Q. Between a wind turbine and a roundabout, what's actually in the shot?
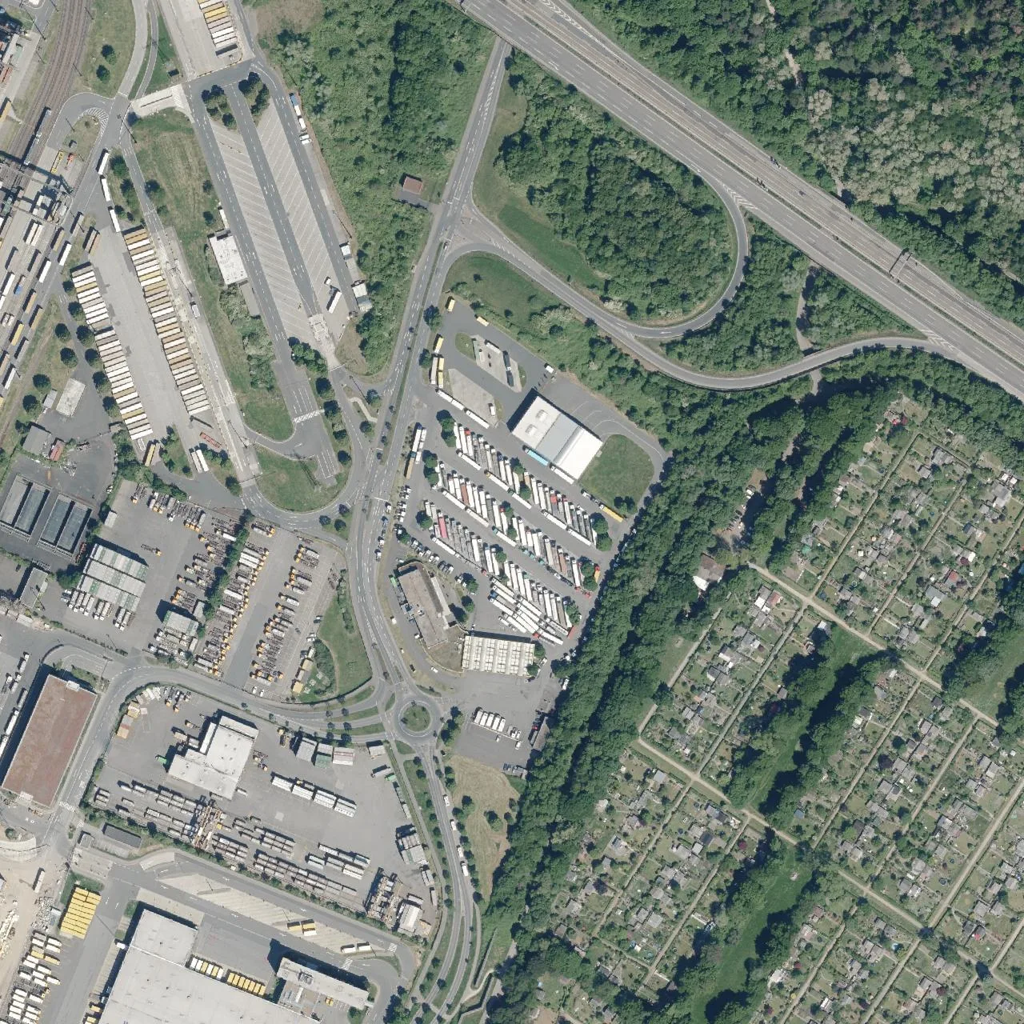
roundabout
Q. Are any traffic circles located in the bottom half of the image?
Yes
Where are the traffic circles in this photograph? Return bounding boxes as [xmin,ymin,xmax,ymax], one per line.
[388,696,446,746]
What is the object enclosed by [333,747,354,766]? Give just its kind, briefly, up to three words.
shed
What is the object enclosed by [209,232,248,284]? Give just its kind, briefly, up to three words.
building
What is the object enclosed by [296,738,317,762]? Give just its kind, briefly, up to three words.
shed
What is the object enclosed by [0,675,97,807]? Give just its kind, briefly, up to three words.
building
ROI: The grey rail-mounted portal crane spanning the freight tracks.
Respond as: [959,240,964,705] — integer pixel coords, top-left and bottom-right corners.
[0,157,63,231]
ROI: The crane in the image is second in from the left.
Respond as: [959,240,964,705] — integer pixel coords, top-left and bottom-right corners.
[192,804,226,854]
